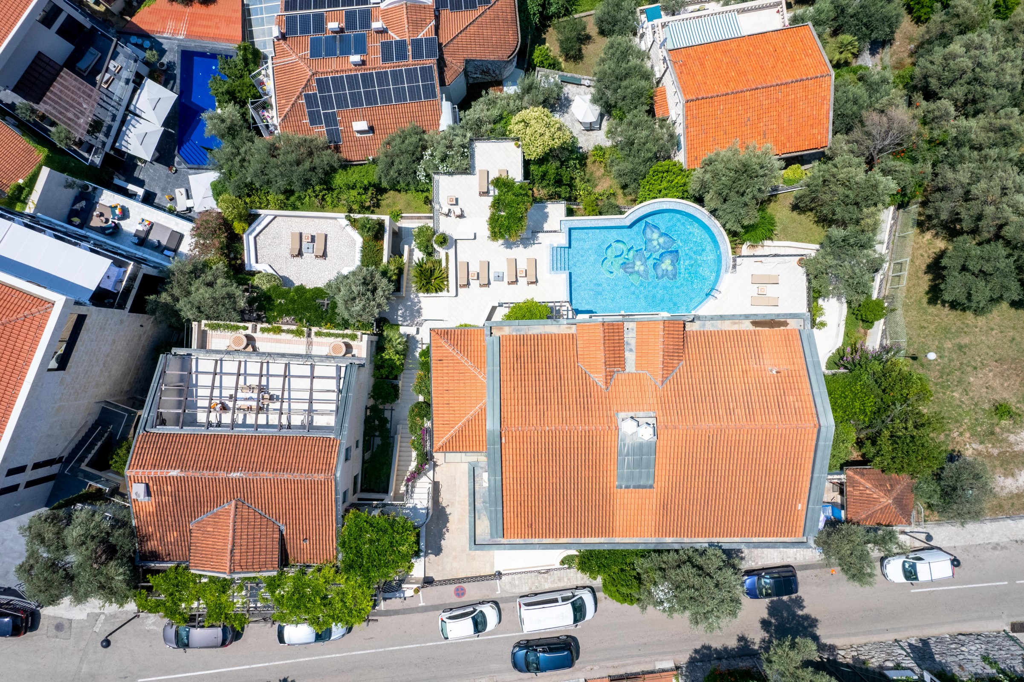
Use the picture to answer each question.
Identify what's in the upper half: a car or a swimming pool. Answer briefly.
swimming pool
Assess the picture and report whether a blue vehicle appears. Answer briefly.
Yes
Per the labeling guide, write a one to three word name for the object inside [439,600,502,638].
car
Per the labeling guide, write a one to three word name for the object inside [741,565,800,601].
car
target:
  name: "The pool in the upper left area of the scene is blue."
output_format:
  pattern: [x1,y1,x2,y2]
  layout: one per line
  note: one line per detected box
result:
[174,45,243,169]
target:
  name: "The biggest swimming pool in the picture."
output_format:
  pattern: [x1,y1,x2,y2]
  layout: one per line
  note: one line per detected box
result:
[549,198,731,317]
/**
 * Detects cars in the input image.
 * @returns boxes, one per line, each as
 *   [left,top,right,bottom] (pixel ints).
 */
[168,619,236,651]
[517,588,594,633]
[0,606,36,638]
[741,565,800,601]
[880,545,960,586]
[439,600,502,638]
[279,616,348,650]
[509,633,577,675]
